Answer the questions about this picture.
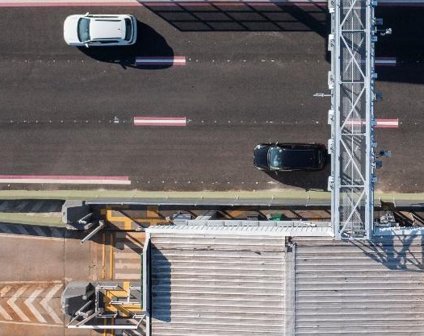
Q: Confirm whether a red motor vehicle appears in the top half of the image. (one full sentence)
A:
No, there's no red motor vehicle to be seen in the top half of the image.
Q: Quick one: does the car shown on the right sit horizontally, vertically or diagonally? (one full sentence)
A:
The car shown on the right is oriented horizontally.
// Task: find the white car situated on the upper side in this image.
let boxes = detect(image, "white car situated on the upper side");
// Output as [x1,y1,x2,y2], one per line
[63,11,138,49]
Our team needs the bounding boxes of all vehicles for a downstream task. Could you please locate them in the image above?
[253,139,326,176]
[63,11,138,49]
